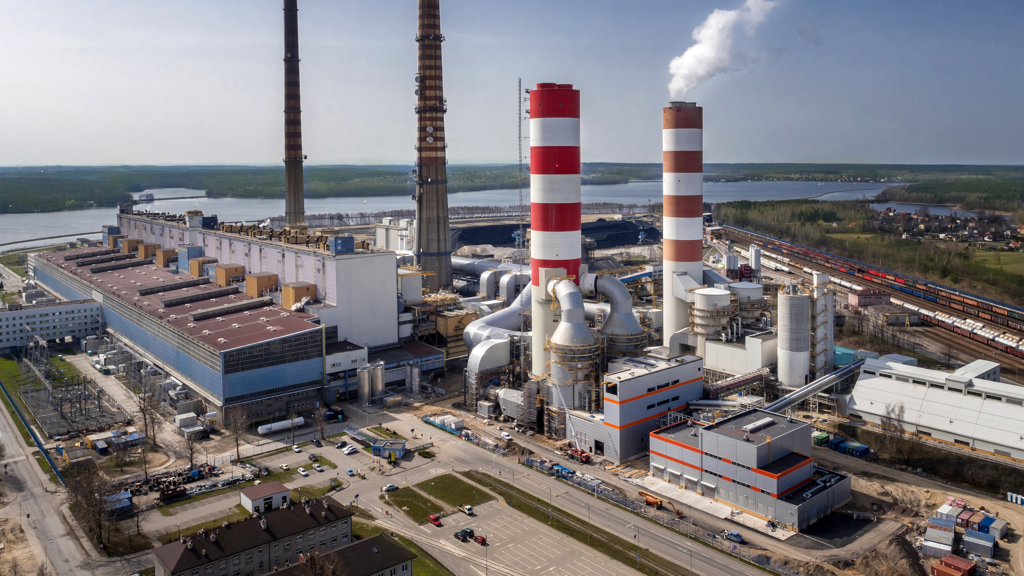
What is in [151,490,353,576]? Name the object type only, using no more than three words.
house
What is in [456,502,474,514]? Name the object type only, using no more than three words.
vehicle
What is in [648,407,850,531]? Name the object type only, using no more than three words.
building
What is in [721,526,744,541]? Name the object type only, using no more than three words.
vehicle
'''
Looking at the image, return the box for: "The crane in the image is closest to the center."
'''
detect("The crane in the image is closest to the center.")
[551,373,591,460]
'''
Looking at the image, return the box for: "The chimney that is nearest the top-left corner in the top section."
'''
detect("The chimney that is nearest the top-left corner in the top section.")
[284,0,308,227]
